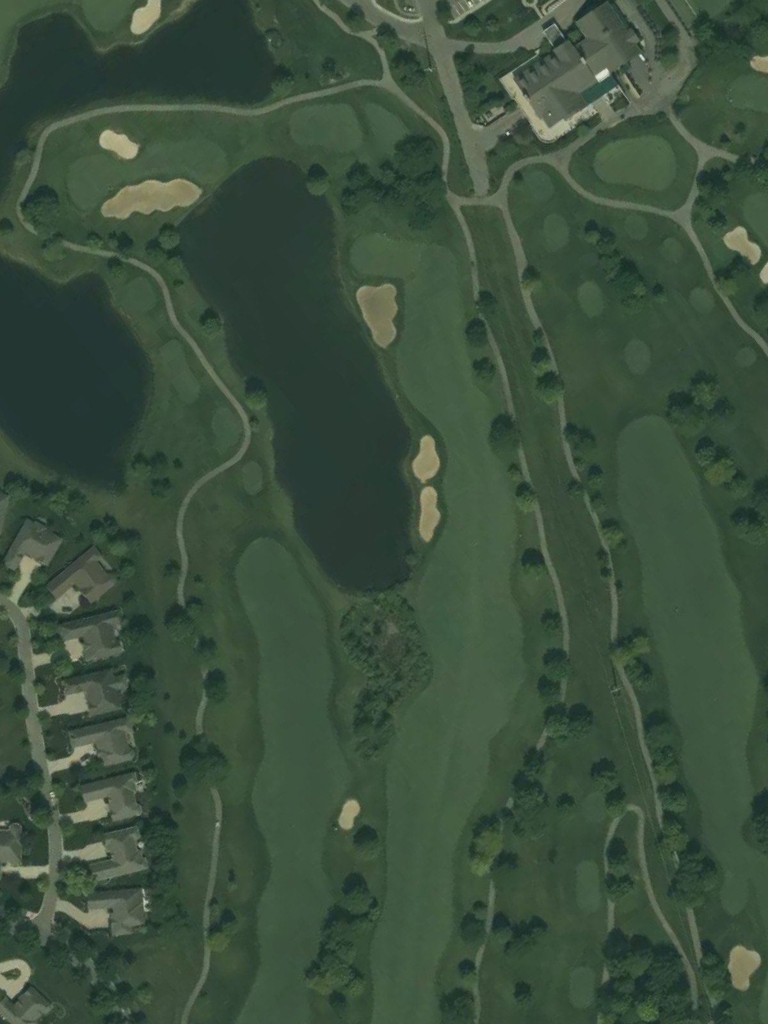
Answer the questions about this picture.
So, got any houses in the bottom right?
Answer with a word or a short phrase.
No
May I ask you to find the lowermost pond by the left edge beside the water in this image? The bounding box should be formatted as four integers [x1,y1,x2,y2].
[0,261,151,486]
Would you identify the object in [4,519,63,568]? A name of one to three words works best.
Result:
house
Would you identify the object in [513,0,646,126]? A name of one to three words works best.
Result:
building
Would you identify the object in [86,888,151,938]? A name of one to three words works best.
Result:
house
